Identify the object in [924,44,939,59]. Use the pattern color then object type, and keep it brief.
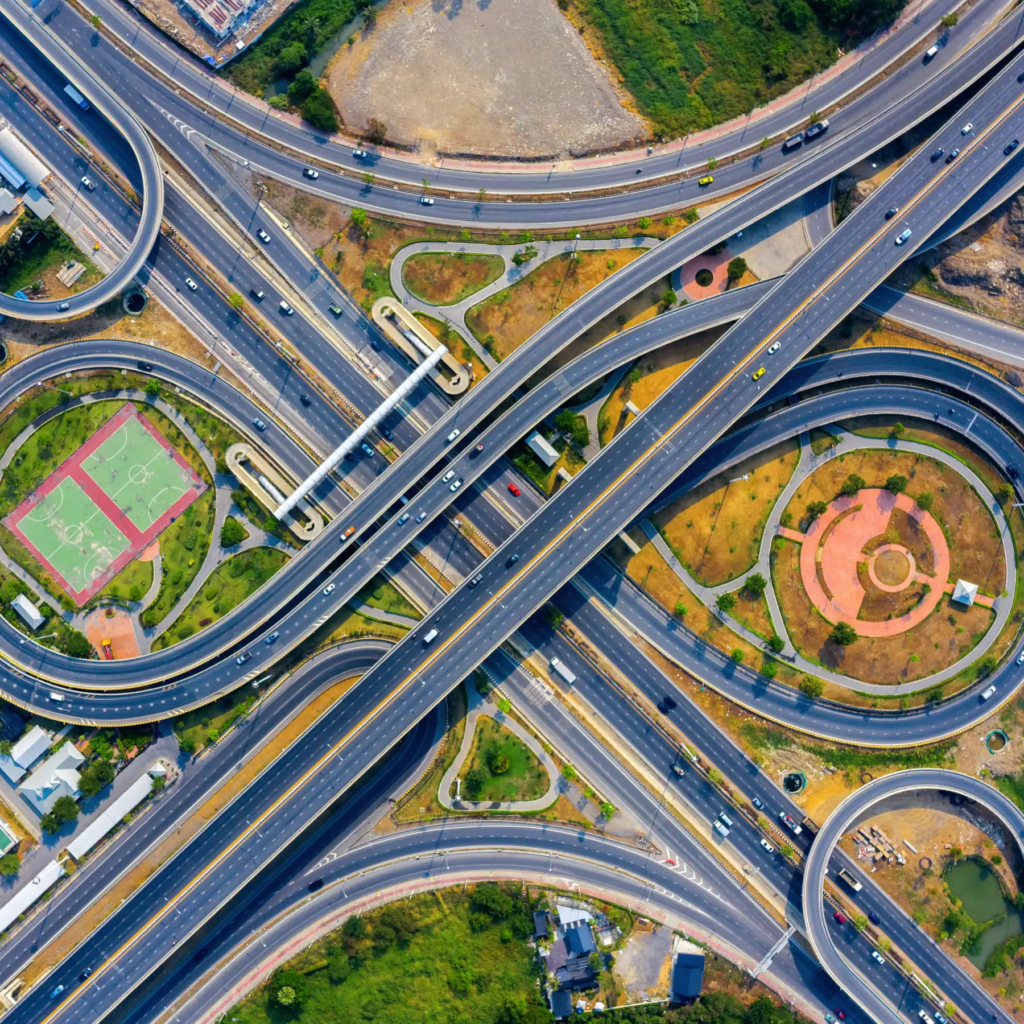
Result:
white vehicle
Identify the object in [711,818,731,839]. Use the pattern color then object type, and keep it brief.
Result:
white vehicle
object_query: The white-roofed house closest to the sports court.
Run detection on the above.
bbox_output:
[13,593,47,630]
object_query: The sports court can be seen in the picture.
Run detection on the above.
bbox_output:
[1,403,208,606]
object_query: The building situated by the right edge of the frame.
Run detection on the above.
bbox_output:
[948,579,978,606]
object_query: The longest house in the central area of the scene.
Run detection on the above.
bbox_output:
[526,430,560,466]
